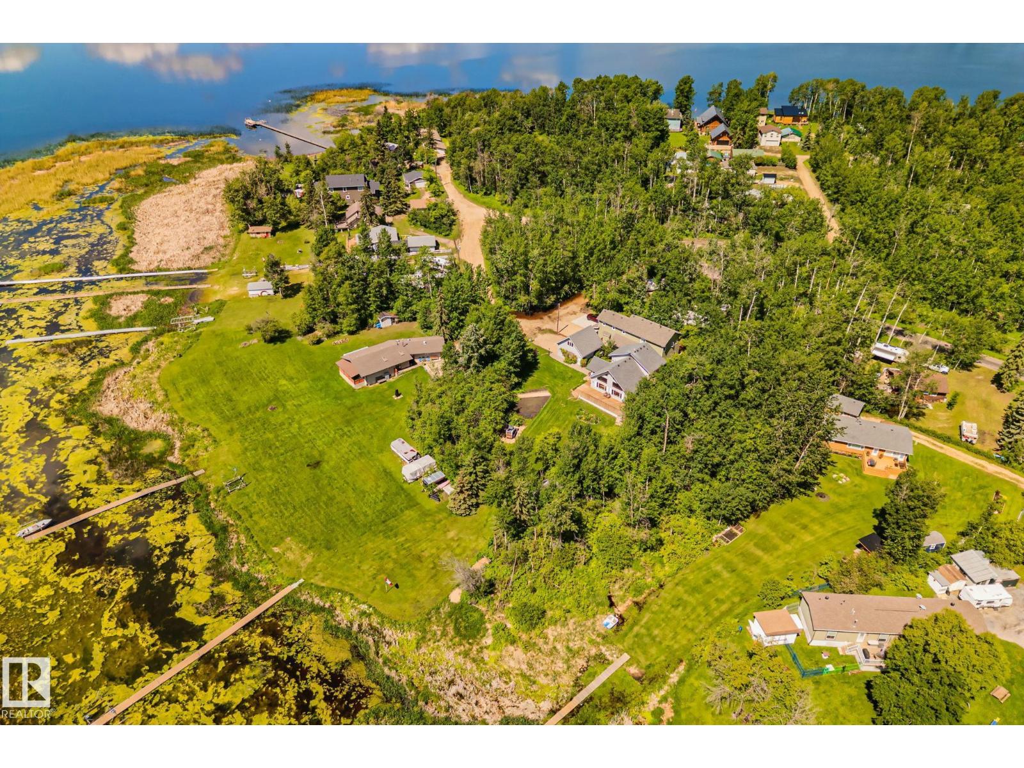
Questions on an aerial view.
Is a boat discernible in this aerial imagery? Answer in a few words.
Yes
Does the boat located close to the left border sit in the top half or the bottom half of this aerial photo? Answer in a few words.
bottom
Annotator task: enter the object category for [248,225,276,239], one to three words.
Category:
building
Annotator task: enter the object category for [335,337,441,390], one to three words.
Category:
house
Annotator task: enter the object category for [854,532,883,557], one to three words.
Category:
gazebo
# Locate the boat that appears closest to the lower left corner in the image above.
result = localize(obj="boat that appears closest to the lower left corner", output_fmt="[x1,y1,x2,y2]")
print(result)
[13,518,53,539]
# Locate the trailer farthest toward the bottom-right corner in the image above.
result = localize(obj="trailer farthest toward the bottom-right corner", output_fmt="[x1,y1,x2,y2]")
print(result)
[961,584,1012,612]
